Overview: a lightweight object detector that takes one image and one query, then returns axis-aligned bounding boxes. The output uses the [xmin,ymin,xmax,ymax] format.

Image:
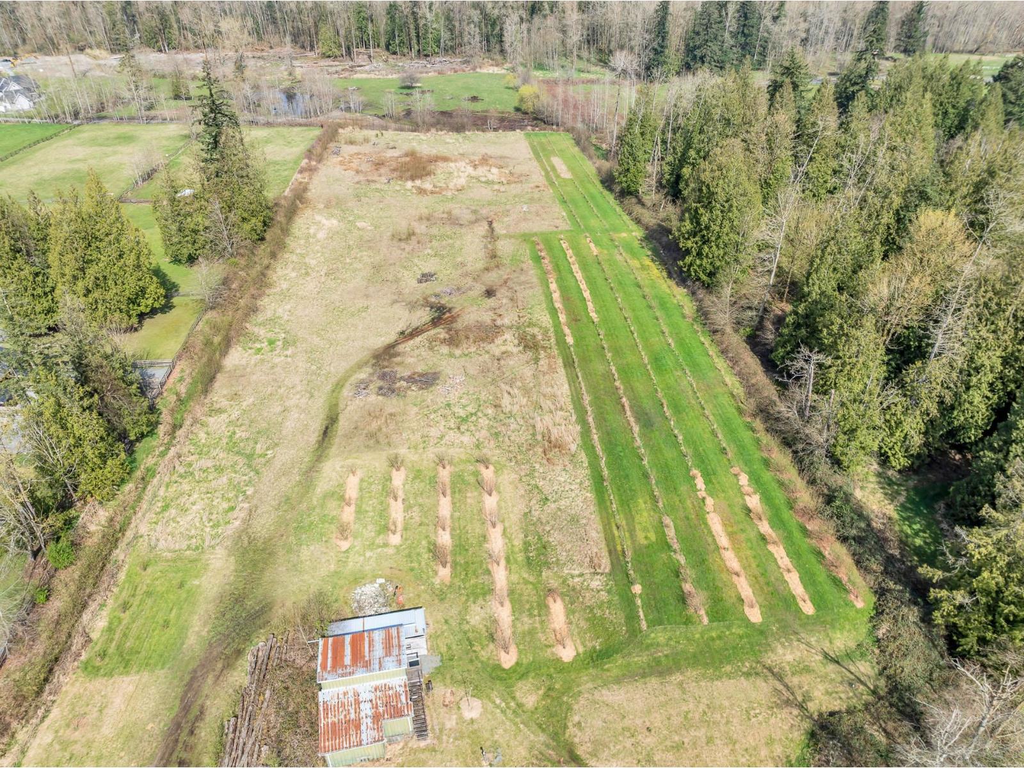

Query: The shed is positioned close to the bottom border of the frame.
[300,604,431,768]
